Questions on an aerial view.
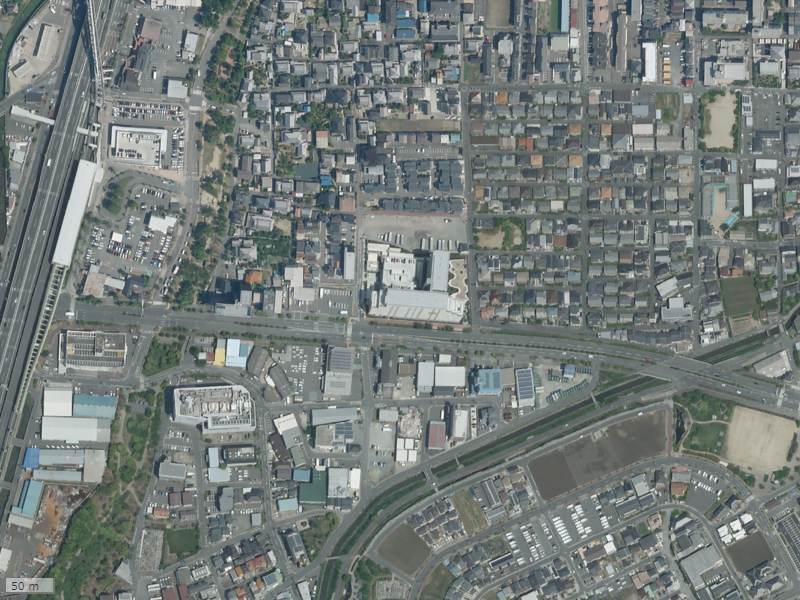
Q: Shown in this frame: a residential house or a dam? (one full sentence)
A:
Looking from above, you can make out a residential house.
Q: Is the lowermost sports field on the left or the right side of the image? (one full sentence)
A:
The lowermost sports field sits on the right side.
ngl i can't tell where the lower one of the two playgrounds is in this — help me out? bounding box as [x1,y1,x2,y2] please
[711,188,733,247]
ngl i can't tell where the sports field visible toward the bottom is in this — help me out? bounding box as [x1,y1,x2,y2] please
[724,406,796,471]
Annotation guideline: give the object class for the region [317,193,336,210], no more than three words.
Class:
house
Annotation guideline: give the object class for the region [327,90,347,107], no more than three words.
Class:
house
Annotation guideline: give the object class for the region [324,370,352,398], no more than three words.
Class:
building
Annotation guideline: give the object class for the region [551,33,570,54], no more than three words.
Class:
building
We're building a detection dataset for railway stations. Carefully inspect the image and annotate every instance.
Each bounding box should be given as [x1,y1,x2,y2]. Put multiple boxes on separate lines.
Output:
[50,159,103,267]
